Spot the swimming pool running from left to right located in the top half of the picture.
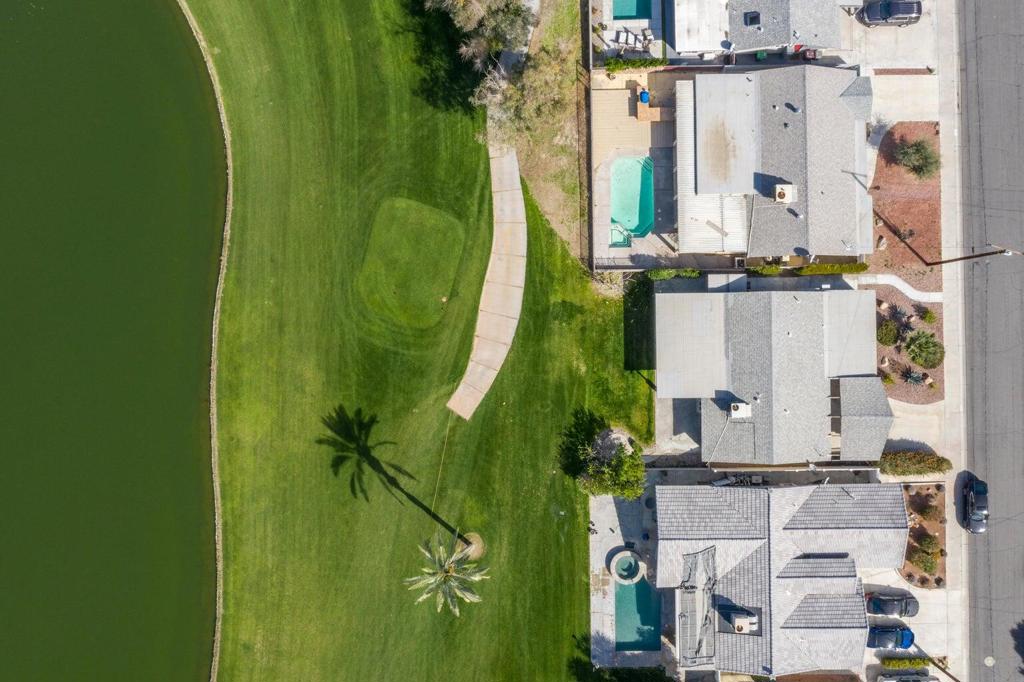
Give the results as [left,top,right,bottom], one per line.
[610,0,656,22]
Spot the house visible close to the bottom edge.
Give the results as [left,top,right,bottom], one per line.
[655,484,909,673]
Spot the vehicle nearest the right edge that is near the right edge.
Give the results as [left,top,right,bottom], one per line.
[962,479,993,534]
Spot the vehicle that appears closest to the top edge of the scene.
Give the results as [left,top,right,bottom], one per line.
[856,0,920,27]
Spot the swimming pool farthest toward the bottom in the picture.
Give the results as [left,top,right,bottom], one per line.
[613,575,662,653]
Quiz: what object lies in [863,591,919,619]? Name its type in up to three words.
car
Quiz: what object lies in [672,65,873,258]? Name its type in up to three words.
house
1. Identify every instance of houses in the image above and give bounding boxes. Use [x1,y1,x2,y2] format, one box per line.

[672,65,873,258]
[675,0,863,54]
[655,484,909,673]
[652,291,893,464]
